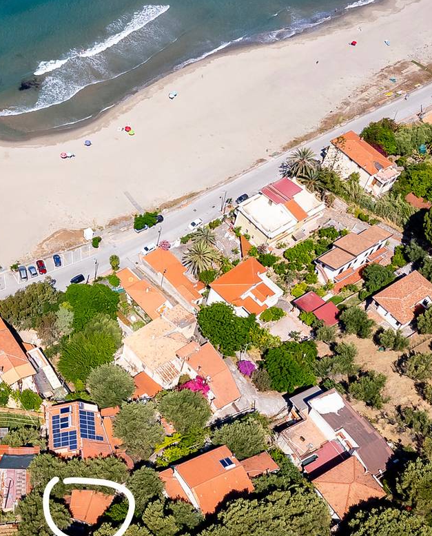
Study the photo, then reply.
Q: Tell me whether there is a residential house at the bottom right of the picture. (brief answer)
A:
Yes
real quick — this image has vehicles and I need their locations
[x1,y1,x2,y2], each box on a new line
[134,224,152,235]
[233,194,250,204]
[16,266,29,281]
[68,274,86,285]
[186,218,205,230]
[150,214,168,226]
[36,260,48,276]
[26,264,39,279]
[51,255,62,269]
[139,242,157,255]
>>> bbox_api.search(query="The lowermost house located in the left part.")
[65,490,114,528]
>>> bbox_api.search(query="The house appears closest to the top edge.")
[326,130,401,192]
